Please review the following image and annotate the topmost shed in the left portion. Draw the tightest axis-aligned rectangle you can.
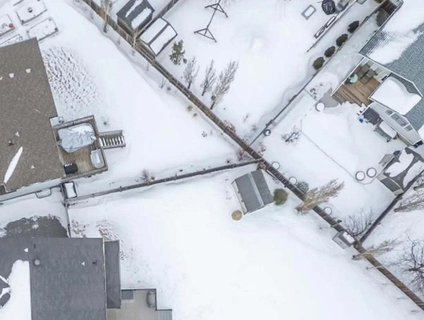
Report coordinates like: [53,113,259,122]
[116,0,155,36]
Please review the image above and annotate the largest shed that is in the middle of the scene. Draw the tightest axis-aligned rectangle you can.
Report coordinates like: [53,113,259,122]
[232,169,274,216]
